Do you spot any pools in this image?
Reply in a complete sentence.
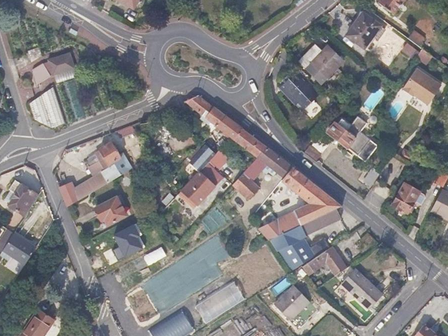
Yes, this view includes a pool.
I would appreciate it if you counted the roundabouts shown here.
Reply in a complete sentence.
The count comes to 1 roundabout.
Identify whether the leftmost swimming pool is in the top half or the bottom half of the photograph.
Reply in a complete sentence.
It is in the bottom half that the leftmost swimming pool appears.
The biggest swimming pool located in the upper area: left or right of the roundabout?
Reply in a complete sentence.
You can see the biggest swimming pool located in the upper area positioned to the right of the roundabout.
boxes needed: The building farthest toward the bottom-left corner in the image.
[21,312,54,336]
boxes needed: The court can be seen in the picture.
[142,234,228,312]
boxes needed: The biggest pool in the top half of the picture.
[362,88,385,110]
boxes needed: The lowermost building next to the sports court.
[148,307,194,336]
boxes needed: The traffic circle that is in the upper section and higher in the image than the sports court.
[138,22,262,110]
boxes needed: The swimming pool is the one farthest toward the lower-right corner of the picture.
[270,276,292,296]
